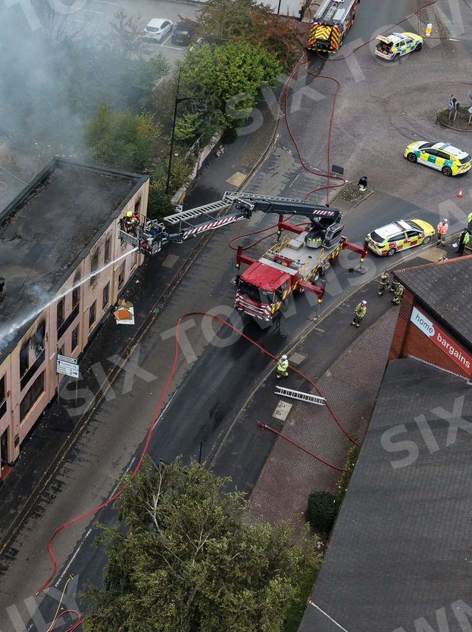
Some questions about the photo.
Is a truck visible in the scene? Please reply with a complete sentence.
Yes, looking at the shot, I can spot a truck.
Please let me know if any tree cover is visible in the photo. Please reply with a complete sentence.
Yes, some tree cover is visible.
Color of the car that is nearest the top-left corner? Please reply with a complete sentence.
The car that is nearest the top-left corner is white.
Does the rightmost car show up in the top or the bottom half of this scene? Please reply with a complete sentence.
You can find the rightmost car in the top half.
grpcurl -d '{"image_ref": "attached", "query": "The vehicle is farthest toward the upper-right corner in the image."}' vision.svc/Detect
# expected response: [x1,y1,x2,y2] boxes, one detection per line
[375,30,427,61]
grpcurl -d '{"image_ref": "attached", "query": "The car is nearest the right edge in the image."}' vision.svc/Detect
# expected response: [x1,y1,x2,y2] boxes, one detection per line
[402,139,472,177]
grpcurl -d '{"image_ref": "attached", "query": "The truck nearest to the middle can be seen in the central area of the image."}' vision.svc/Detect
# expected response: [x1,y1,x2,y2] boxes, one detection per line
[124,185,368,327]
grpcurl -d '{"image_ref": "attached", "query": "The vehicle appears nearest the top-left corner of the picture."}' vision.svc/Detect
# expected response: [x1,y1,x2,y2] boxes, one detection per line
[136,14,174,41]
